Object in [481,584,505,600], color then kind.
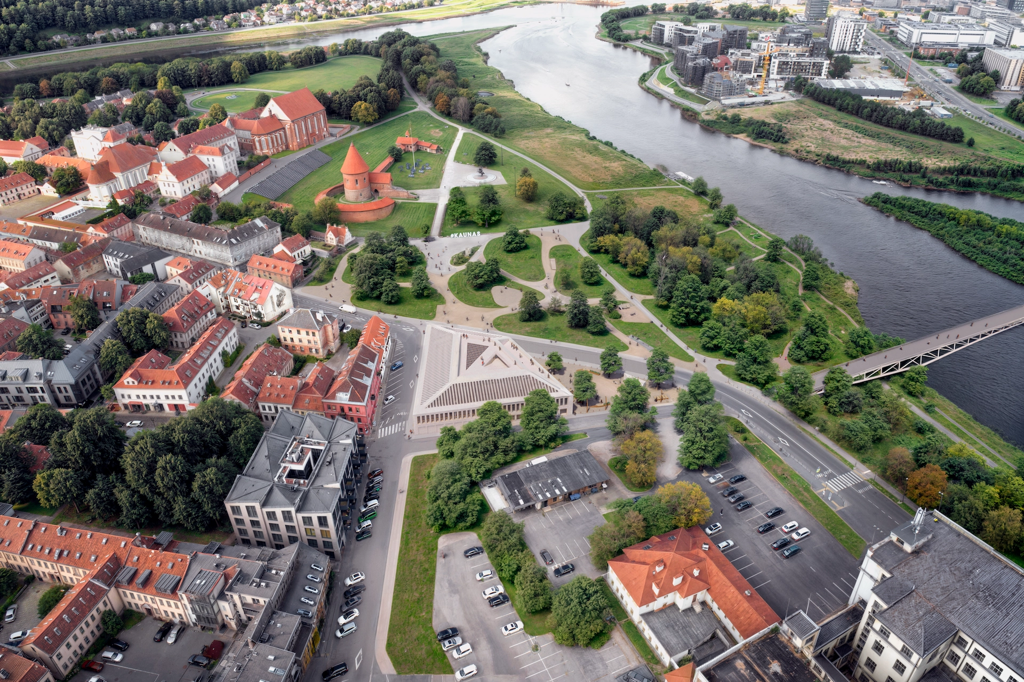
white car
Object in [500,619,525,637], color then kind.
white car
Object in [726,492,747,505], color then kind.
gray vehicle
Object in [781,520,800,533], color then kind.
white vehicle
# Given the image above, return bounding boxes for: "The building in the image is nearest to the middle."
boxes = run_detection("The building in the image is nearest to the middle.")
[413,323,574,432]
